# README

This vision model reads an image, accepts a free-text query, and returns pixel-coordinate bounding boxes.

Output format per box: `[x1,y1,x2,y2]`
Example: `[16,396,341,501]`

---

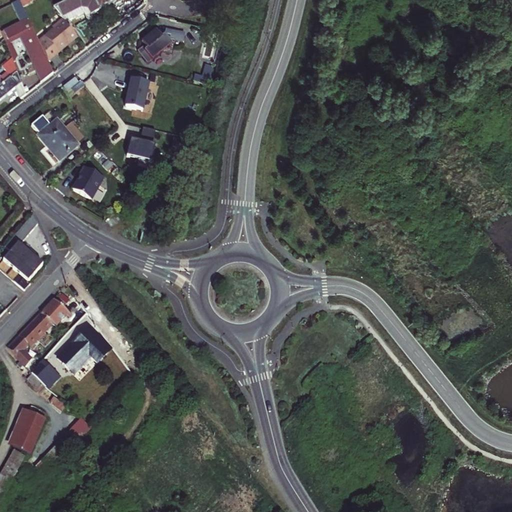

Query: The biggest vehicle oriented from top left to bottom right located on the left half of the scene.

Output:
[10,169,25,186]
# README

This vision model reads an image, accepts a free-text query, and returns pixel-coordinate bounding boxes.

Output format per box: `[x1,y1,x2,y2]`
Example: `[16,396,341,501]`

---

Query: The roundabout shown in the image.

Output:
[142,200,328,386]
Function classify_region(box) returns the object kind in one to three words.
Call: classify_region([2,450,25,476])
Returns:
shed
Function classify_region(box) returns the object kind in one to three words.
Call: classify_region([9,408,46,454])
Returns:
barn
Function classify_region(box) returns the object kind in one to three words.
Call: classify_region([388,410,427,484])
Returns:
pond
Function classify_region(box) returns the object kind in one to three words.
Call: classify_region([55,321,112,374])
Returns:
house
